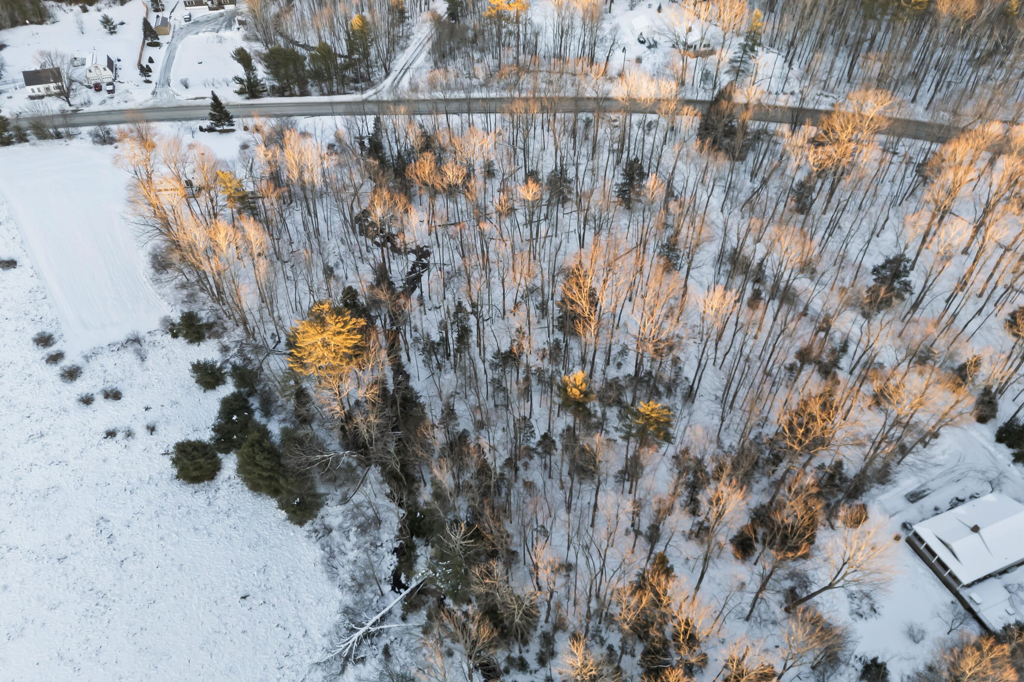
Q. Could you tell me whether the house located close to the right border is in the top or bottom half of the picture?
bottom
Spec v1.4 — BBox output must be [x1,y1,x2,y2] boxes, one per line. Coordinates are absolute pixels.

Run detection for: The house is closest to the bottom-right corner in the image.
[906,485,1024,638]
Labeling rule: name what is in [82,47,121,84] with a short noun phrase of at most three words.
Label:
barn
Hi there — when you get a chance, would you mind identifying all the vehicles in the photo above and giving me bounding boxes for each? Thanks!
[104,81,115,93]
[183,12,192,22]
[91,81,102,92]
[637,33,649,43]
